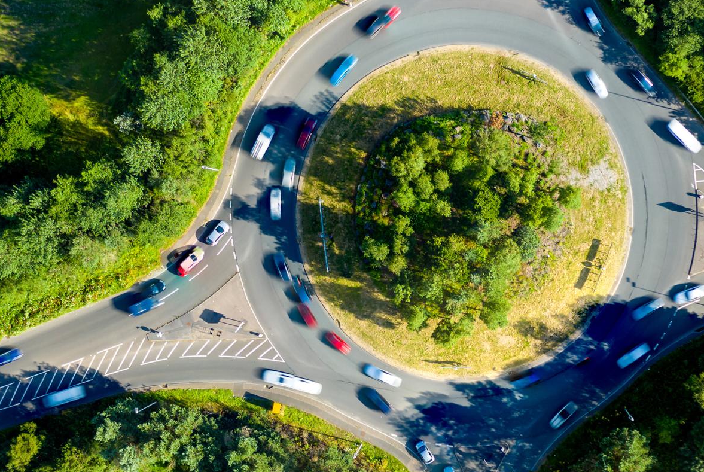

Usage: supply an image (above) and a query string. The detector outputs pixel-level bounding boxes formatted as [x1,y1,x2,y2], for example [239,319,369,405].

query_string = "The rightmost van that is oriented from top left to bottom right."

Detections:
[667,118,700,154]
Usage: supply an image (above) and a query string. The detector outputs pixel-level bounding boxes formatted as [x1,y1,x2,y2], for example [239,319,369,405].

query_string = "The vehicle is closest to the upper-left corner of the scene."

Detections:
[250,122,277,160]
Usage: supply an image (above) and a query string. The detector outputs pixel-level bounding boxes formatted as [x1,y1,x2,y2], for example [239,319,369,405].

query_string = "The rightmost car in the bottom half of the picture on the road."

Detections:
[673,283,704,305]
